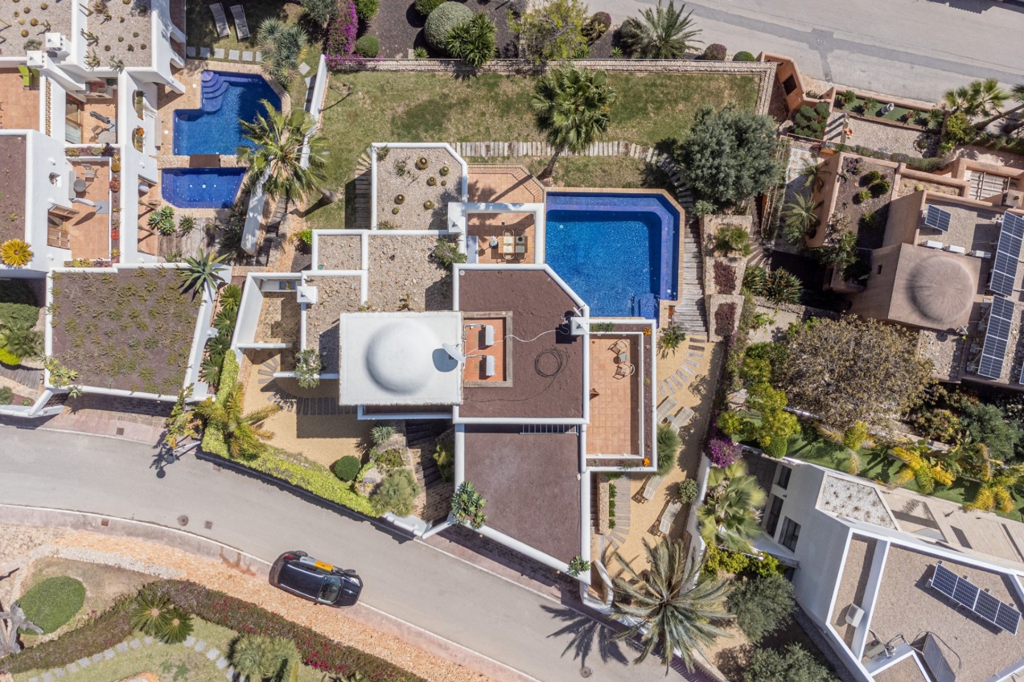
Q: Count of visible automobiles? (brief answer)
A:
1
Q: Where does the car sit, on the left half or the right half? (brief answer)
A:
left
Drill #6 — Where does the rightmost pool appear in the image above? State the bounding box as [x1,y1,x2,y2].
[546,193,679,320]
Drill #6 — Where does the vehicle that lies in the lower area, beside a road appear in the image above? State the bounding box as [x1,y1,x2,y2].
[268,549,364,614]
